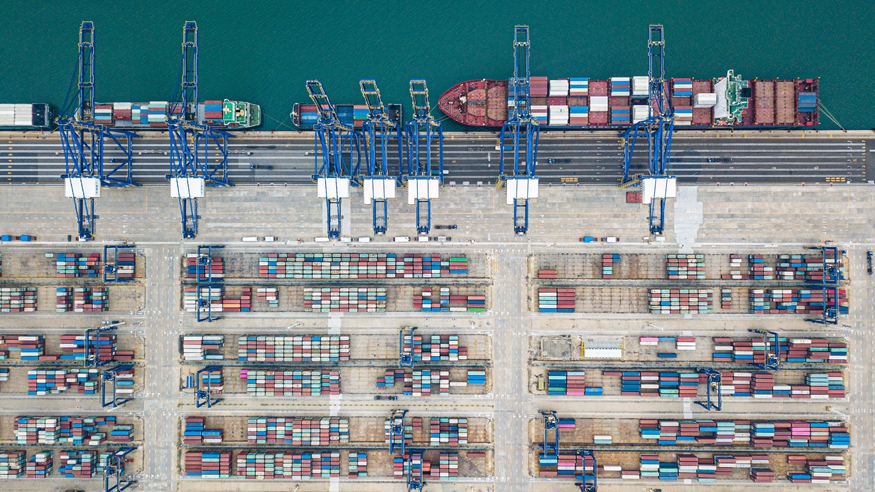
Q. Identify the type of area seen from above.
port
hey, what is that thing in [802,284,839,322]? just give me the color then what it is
blue container crane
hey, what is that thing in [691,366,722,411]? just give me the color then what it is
blue container crane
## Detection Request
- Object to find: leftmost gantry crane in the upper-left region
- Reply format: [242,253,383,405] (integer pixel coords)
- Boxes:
[51,22,144,241]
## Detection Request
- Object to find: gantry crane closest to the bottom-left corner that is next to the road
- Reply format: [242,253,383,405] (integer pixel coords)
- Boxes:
[104,444,139,492]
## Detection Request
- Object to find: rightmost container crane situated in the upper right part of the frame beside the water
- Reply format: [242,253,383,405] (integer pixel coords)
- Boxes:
[612,22,684,241]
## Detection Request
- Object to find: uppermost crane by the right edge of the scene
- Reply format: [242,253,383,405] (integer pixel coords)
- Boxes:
[802,248,840,284]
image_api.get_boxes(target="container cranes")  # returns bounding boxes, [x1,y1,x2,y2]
[196,361,225,406]
[197,283,226,321]
[398,324,418,366]
[802,284,839,322]
[85,326,120,366]
[357,74,404,241]
[102,247,137,282]
[612,22,684,241]
[104,444,139,492]
[802,248,840,284]
[51,22,144,241]
[303,74,363,241]
[537,403,560,457]
[197,247,226,282]
[573,443,597,492]
[161,22,238,241]
[402,74,449,241]
[691,366,722,411]
[490,22,545,241]
[406,441,426,490]
[389,402,408,453]
[101,366,135,407]
[745,328,780,369]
